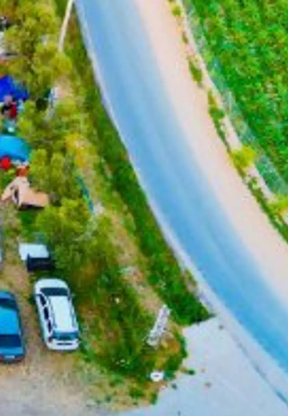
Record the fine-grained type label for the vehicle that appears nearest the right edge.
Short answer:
automobile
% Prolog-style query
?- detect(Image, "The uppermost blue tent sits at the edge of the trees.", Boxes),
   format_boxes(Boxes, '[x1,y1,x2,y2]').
[0,76,28,104]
